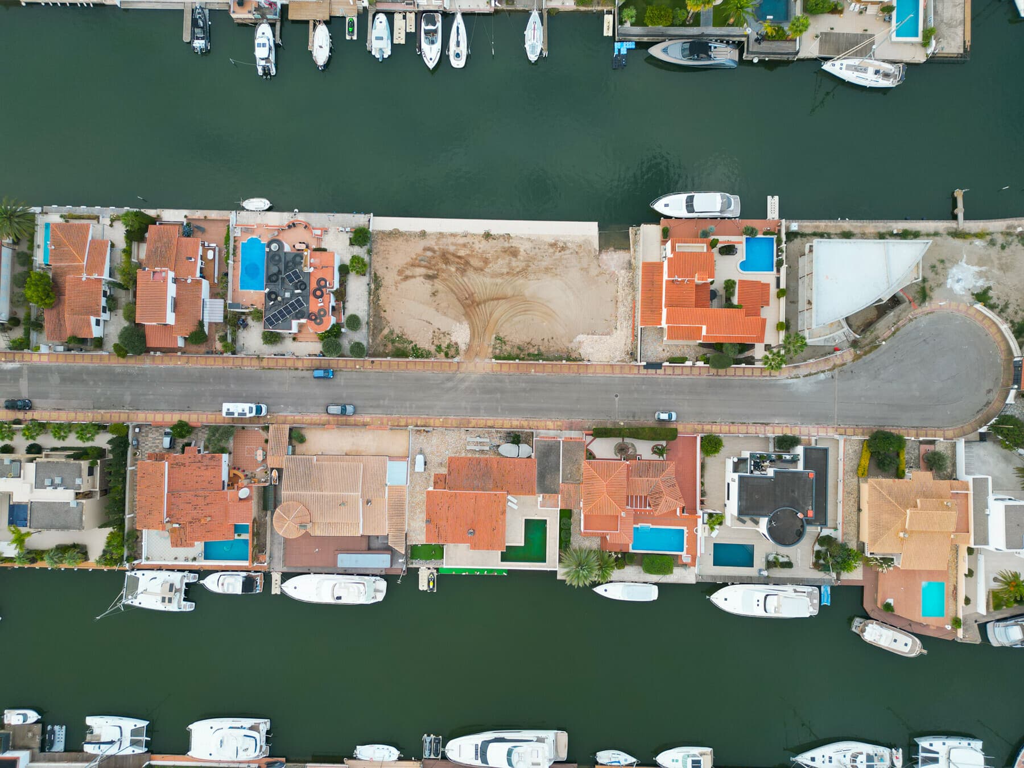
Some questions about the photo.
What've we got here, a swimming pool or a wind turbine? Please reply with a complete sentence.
Looking from above, you can make out a swimming pool.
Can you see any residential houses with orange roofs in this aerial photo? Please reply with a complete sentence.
Yes, this view includes a residential house with an orange roof.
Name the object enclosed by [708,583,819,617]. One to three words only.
boat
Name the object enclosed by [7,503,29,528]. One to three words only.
swimming pool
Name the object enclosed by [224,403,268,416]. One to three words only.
vehicle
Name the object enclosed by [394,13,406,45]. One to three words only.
pier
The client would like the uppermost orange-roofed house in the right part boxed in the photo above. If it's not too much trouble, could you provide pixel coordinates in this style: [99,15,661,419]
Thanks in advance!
[639,238,770,345]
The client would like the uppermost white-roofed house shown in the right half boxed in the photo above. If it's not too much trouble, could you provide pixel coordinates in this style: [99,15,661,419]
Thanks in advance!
[797,239,932,346]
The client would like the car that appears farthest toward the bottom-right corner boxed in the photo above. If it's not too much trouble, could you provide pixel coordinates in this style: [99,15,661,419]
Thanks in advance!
[654,409,676,423]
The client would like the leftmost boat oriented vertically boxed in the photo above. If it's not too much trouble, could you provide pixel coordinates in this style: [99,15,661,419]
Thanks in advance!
[44,721,56,752]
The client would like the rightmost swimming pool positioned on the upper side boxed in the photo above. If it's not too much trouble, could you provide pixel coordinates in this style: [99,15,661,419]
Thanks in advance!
[891,0,924,42]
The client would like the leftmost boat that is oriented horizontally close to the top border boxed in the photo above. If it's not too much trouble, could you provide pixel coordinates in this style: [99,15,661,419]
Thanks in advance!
[648,38,742,71]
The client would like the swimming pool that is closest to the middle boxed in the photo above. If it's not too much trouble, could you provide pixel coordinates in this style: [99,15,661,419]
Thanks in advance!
[499,517,549,565]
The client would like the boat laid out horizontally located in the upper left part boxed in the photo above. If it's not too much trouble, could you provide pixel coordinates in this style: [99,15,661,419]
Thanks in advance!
[235,197,271,211]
